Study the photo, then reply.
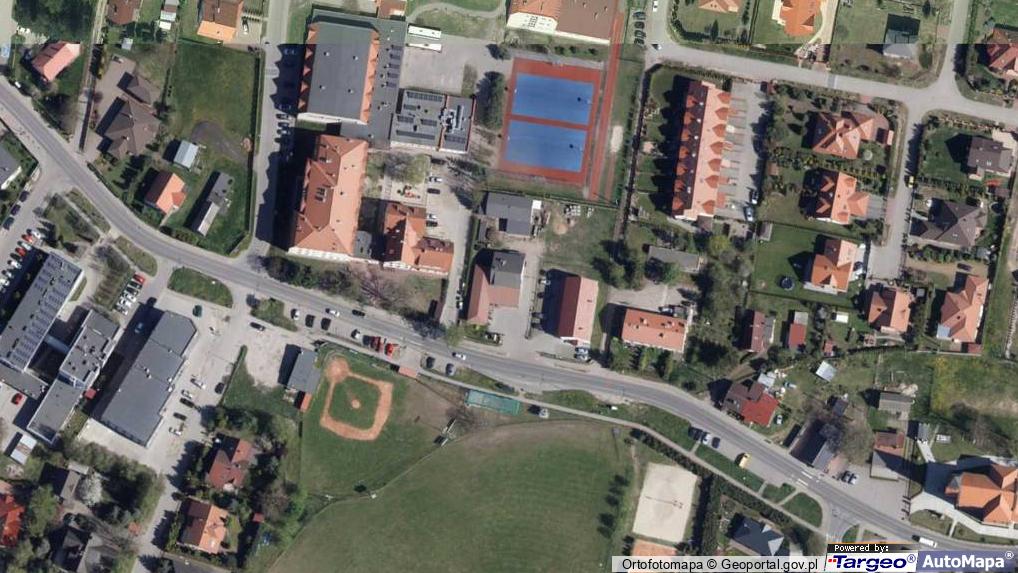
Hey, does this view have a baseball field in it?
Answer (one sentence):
Yes, the photo shows a baseball field.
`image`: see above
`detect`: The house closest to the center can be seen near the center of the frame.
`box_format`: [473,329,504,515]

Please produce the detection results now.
[466,251,525,326]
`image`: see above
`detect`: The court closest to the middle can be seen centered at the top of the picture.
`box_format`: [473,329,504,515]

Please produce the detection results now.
[499,57,601,188]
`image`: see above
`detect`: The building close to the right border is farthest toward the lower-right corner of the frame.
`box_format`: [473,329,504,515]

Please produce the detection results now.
[945,456,1018,531]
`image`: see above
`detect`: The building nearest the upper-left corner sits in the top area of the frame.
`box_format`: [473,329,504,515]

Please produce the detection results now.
[29,37,80,81]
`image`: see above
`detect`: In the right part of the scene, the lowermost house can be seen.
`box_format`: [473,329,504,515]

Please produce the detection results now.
[732,516,788,568]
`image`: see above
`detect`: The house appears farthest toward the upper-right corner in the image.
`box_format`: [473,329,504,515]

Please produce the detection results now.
[986,28,1018,83]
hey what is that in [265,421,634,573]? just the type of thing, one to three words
sports field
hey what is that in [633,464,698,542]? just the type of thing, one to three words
sports court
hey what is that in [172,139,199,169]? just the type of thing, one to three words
shed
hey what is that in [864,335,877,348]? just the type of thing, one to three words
gazebo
